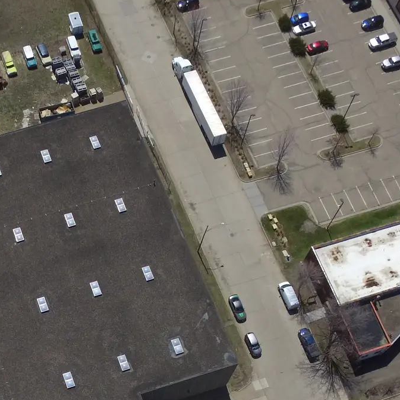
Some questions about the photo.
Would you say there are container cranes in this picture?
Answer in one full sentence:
No, the photo shows no container crane.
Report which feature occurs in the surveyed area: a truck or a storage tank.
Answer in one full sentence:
Looking from above, you can make out a truck.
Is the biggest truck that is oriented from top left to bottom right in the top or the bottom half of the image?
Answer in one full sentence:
The top half of the photo is where the biggest truck that is oriented from top left to bottom right is.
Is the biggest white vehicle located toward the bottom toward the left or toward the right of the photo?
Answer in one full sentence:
The biggest white vehicle located toward the bottom sits on the right side.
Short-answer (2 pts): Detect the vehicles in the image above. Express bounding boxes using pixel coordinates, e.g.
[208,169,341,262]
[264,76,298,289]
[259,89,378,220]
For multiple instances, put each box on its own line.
[292,11,311,26]
[299,329,321,362]
[67,33,81,59]
[22,46,37,70]
[228,295,245,322]
[87,29,103,53]
[169,55,233,143]
[37,42,52,67]
[291,21,318,37]
[0,68,6,86]
[379,53,400,71]
[1,52,17,77]
[245,334,261,359]
[279,281,302,313]
[367,30,400,49]
[359,16,386,30]
[347,0,373,12]
[305,40,330,55]
[176,0,202,12]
